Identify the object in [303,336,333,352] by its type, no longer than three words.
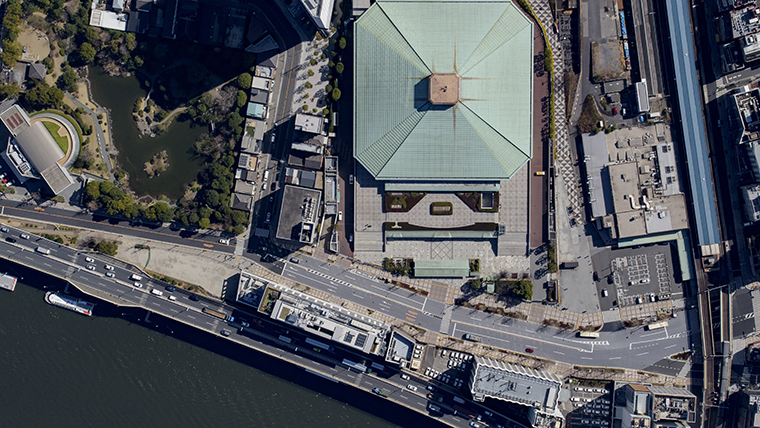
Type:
vehicle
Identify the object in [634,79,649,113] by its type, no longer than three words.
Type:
shed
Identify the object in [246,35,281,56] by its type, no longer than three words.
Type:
building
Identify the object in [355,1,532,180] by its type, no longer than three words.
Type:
stadium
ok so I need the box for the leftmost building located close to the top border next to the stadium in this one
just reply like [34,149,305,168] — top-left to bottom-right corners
[301,0,338,38]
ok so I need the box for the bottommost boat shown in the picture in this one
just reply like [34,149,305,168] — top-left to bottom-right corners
[43,292,93,315]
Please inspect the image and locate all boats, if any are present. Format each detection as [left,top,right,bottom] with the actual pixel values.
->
[43,292,93,315]
[0,274,18,293]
